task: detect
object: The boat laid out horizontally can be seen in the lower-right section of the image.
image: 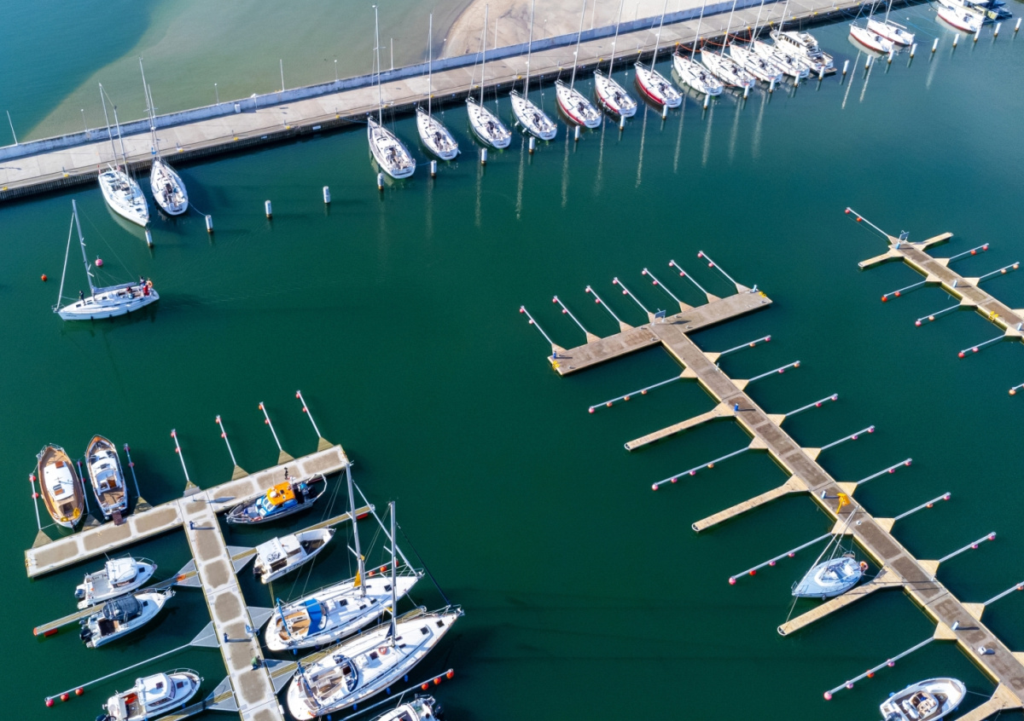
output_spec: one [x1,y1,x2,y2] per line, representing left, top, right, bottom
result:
[876,682,965,721]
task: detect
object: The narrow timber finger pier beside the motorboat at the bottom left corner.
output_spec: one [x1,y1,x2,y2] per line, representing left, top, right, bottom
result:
[159,677,239,721]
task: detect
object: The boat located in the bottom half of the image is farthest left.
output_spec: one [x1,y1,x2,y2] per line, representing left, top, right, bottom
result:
[35,443,85,534]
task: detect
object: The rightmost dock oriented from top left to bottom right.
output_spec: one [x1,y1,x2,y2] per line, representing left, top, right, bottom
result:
[886,240,1024,345]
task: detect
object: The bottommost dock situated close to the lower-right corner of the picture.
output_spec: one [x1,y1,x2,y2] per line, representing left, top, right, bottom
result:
[949,680,1019,721]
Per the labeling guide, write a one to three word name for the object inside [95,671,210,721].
boat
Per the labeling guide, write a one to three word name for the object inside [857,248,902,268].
pier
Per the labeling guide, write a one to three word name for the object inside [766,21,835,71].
boat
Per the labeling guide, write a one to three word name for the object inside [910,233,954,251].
pier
